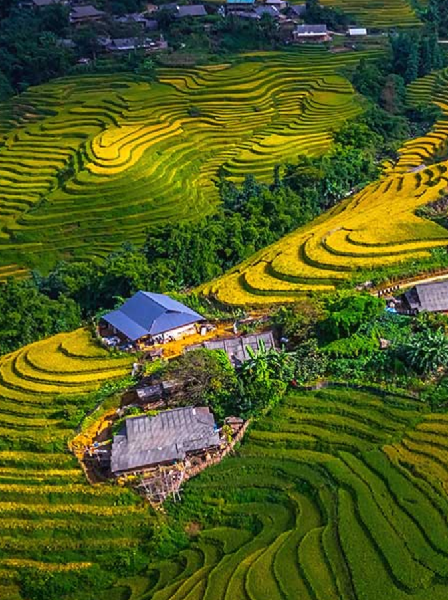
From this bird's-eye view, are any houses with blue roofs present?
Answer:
Yes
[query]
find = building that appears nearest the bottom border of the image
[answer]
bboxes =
[104,399,223,482]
